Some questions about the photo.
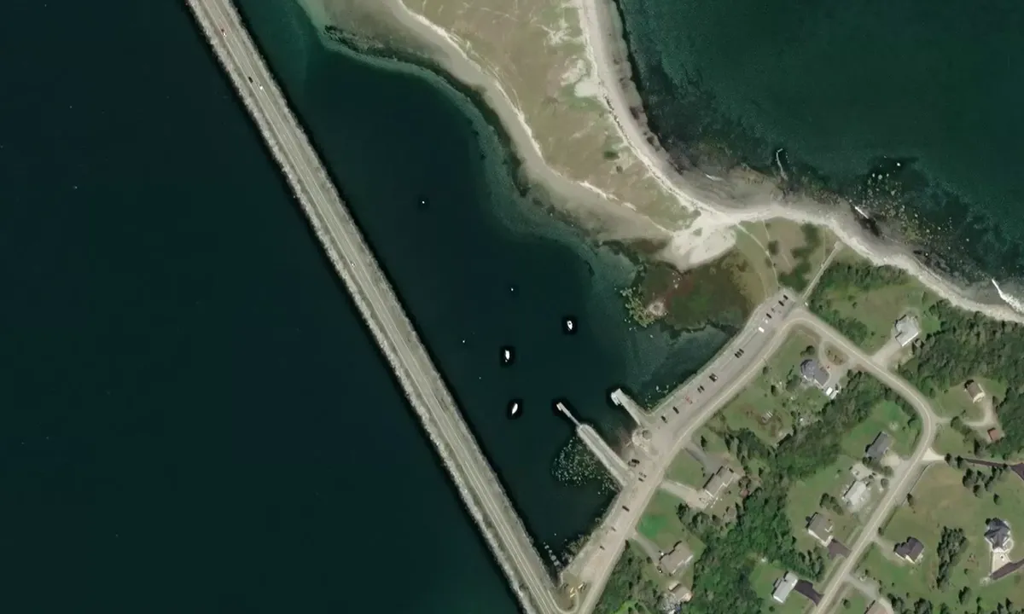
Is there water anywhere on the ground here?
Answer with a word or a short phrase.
Yes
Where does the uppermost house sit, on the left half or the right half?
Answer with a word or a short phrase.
right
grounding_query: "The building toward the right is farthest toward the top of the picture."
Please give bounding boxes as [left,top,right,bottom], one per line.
[895,316,919,348]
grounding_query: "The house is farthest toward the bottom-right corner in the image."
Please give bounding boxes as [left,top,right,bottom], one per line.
[985,517,1012,552]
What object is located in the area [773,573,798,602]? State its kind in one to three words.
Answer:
house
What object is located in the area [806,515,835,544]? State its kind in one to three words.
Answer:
house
